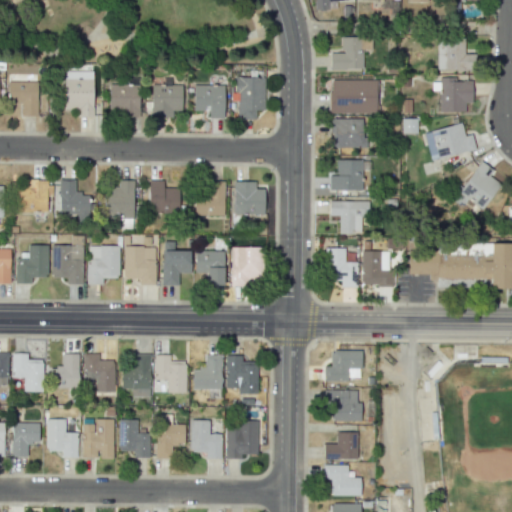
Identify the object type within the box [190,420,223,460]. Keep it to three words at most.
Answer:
house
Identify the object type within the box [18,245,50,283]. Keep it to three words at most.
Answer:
house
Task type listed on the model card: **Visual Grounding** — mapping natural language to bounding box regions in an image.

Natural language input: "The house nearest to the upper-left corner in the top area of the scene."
[10,82,39,117]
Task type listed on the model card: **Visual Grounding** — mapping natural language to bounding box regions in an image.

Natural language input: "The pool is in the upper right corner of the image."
[464,6,482,18]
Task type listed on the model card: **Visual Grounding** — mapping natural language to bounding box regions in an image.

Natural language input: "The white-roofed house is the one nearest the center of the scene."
[232,248,264,288]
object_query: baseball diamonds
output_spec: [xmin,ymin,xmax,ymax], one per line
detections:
[459,385,512,482]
